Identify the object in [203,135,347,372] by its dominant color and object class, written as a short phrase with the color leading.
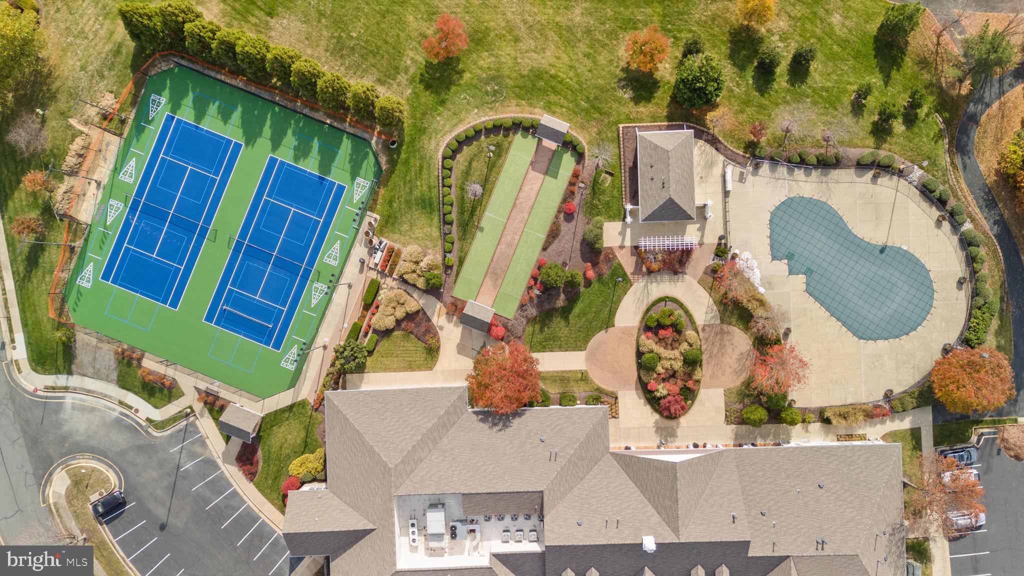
blue tennis court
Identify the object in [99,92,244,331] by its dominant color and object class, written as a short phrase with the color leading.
blue tennis court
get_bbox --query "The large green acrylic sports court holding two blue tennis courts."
[63,65,379,399]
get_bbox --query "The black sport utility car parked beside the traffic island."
[91,489,128,519]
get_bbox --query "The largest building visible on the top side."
[637,130,696,223]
